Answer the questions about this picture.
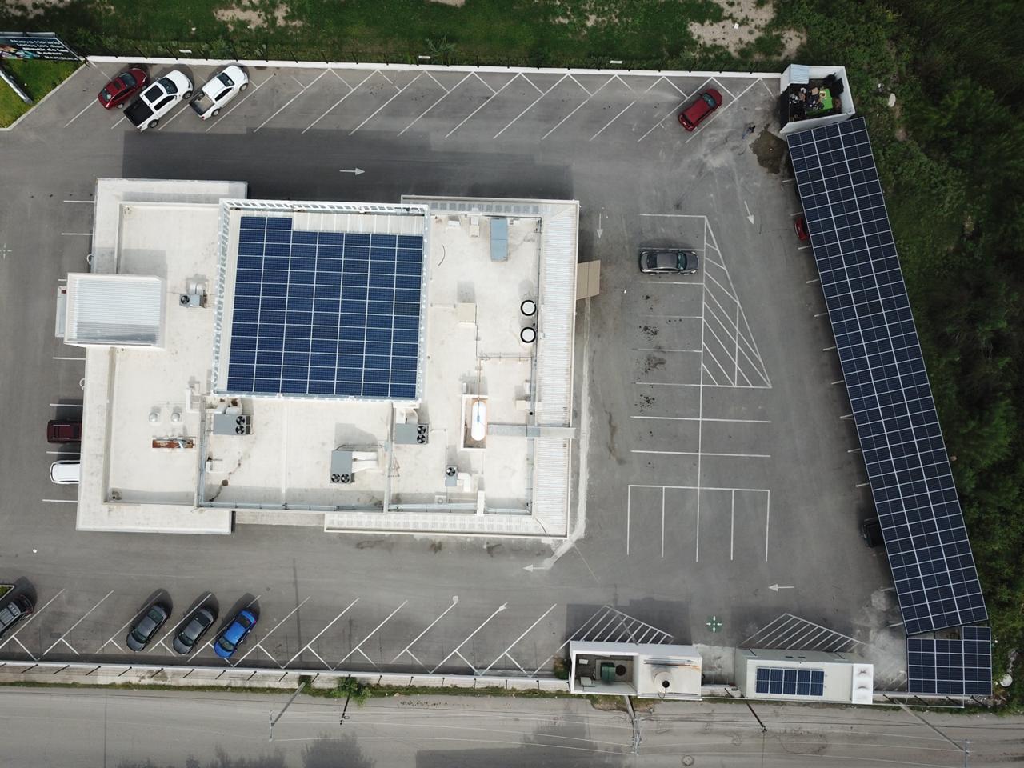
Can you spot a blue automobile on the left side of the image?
Yes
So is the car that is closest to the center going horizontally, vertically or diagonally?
horizontally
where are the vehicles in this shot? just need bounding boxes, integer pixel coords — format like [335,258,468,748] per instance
[0,594,38,645]
[186,67,252,123]
[122,71,196,134]
[174,601,220,654]
[213,606,261,660]
[96,67,151,112]
[127,599,174,652]
[47,419,81,444]
[639,246,699,275]
[51,459,79,484]
[676,88,724,133]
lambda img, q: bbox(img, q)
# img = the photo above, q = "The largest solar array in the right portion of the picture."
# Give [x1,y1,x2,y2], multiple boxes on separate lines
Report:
[753,668,826,696]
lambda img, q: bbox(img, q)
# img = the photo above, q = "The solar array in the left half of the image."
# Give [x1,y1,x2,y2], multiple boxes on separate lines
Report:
[228,217,423,397]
